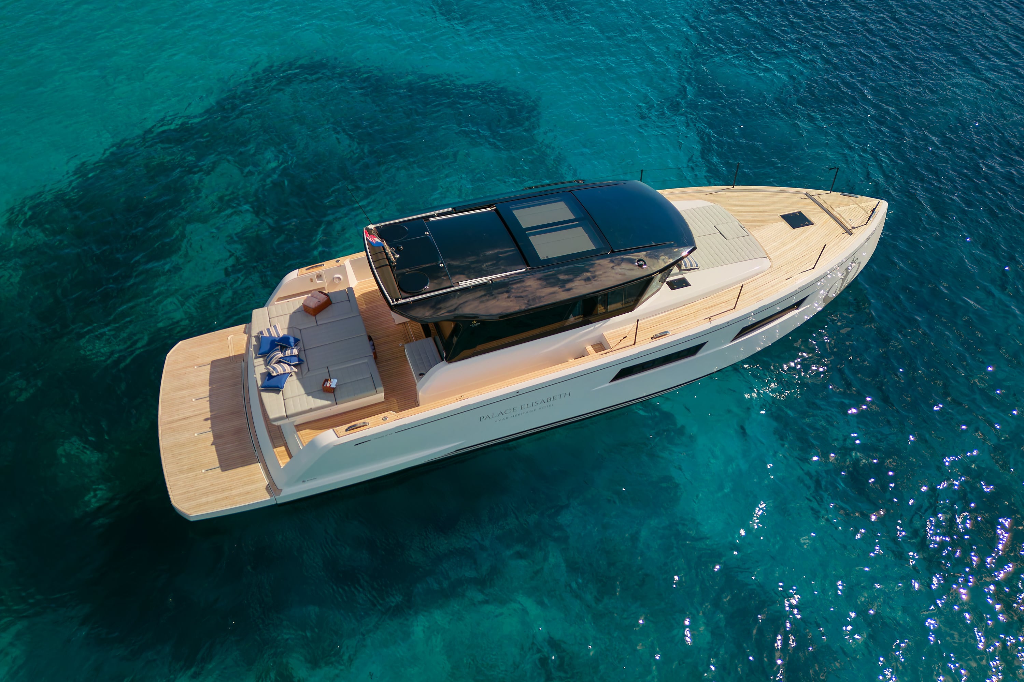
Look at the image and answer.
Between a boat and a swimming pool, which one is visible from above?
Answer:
boat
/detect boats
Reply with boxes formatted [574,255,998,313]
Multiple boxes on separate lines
[160,162,887,518]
